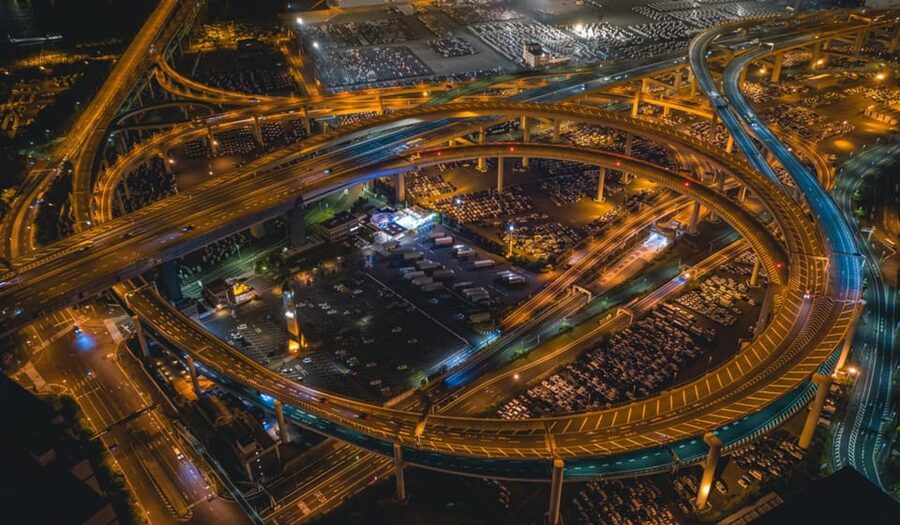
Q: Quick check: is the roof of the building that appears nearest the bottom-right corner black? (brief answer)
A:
Yes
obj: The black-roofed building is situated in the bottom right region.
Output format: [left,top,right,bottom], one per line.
[765,467,900,525]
